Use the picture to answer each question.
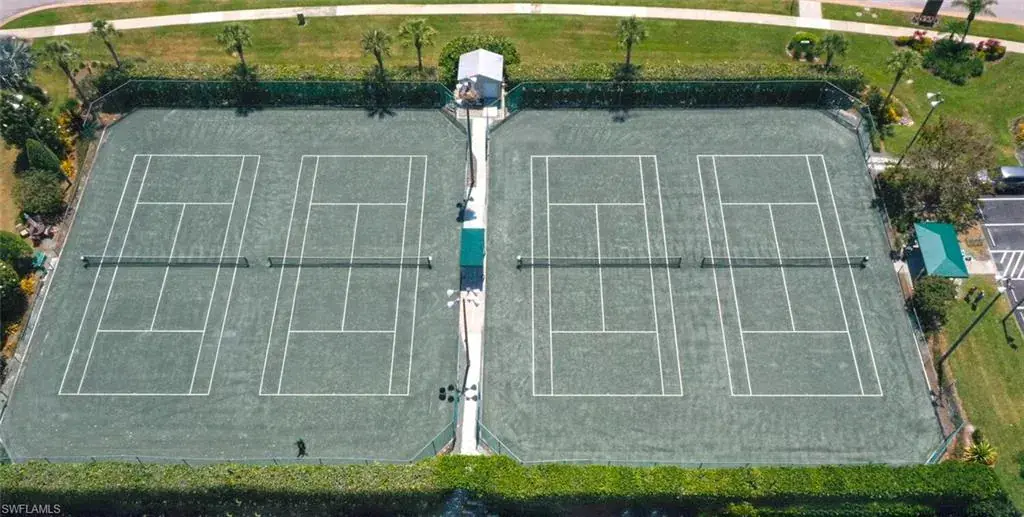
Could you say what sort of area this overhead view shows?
sports ground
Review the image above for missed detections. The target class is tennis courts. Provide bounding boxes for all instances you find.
[220,107,465,471]
[670,106,944,472]
[0,107,290,471]
[483,106,717,472]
